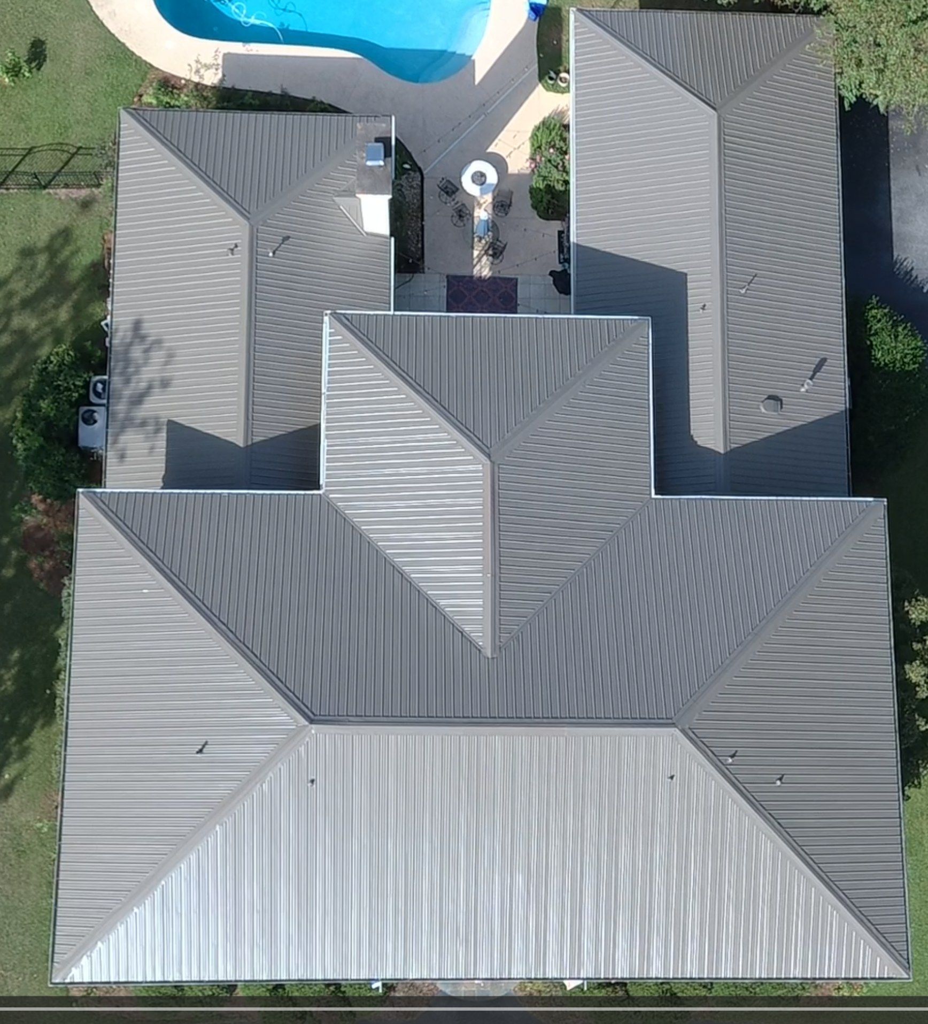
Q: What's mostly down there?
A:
buildings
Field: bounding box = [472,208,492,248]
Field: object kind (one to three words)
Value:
umbrella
